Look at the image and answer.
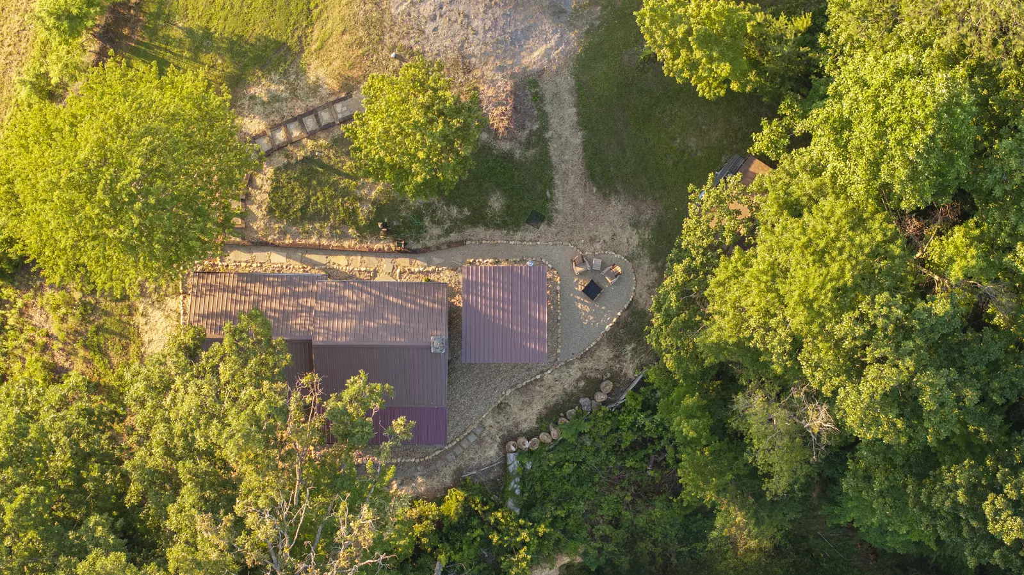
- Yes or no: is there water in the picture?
No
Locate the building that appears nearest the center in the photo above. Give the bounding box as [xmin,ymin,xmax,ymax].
[462,266,547,363]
